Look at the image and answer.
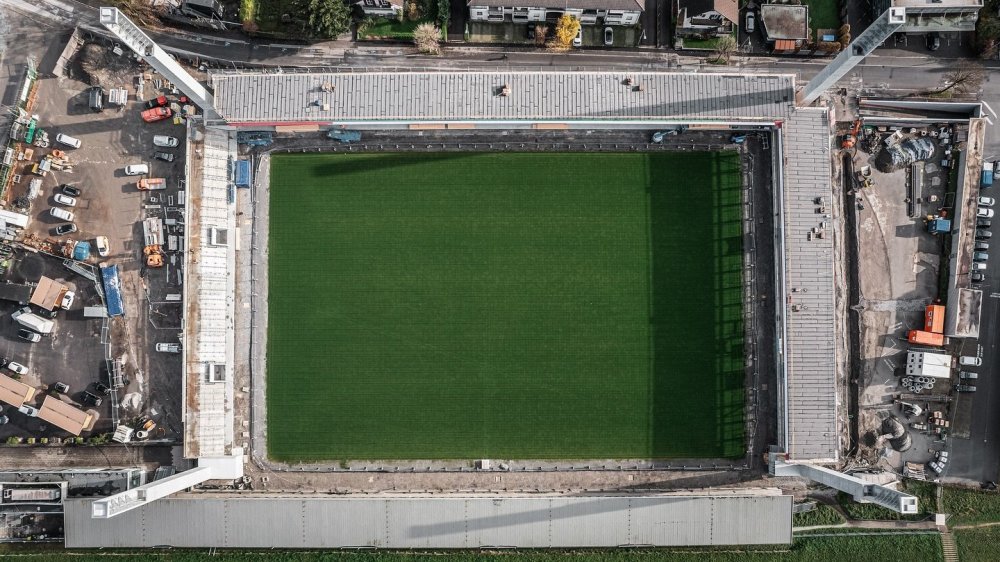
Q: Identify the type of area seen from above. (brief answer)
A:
sports ground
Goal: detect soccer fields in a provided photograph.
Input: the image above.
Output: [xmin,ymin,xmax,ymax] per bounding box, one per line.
[266,150,748,464]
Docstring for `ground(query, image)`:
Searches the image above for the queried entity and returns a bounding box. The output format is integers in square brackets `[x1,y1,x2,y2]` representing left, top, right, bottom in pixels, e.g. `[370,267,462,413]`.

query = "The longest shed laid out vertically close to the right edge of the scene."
[948,117,986,288]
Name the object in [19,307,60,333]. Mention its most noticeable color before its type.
white truck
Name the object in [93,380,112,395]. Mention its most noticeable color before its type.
black car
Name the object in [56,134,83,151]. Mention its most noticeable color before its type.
white vehicle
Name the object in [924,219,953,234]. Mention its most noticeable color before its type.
blue vehicle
